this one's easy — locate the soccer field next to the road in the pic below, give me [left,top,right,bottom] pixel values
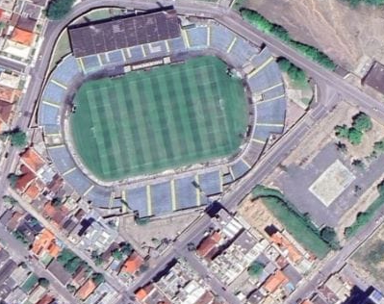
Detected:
[73,57,249,181]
